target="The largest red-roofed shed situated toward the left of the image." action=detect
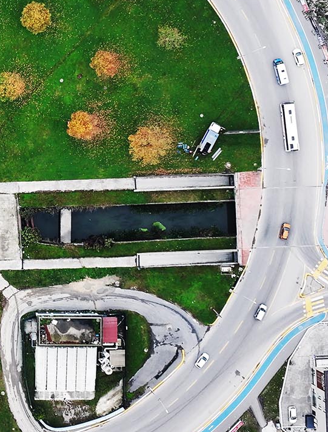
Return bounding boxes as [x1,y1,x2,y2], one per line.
[102,316,117,343]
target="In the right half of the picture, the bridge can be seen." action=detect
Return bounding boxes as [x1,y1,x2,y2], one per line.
[232,172,262,269]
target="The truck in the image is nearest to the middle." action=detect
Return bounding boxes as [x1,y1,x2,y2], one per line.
[194,121,223,156]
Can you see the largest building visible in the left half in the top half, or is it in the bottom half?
bottom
